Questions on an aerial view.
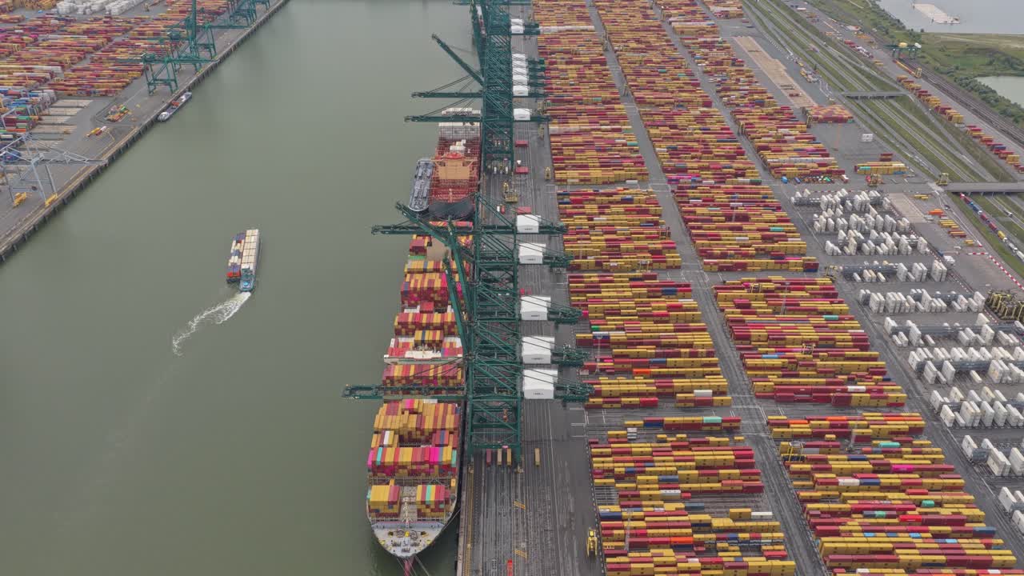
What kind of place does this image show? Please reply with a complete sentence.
What you see here is a port.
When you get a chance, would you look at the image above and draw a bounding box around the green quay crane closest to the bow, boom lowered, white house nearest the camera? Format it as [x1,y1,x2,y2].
[334,341,601,473]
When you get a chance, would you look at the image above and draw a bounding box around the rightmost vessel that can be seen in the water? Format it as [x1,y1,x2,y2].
[912,0,962,24]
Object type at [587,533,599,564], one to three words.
vehicle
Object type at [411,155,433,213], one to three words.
ship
